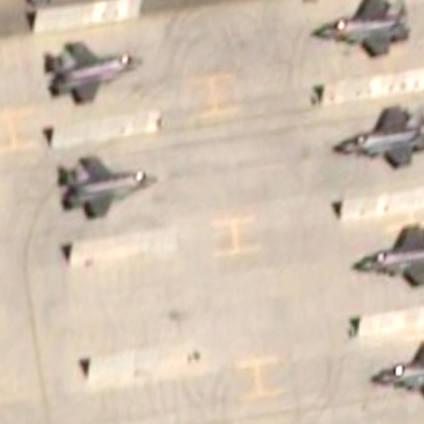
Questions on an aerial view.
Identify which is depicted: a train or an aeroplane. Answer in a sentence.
Visible in the photo is an aeroplane.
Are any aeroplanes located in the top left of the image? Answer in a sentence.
Yes, an aeroplane is visible in the top left of the image.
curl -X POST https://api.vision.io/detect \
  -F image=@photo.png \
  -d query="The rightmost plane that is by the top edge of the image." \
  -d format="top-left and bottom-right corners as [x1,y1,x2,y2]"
[320,0,410,51]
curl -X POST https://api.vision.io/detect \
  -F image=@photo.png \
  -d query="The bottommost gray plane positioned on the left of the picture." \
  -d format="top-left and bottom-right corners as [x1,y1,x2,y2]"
[65,154,156,215]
